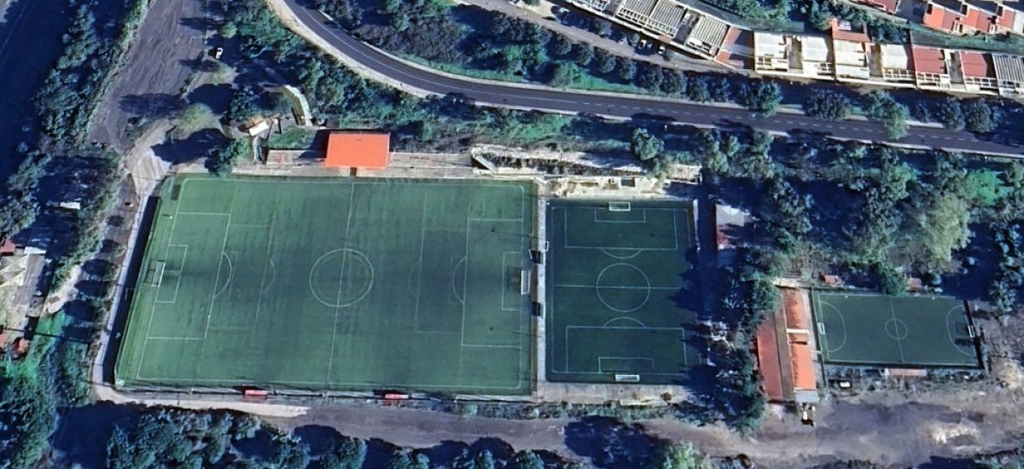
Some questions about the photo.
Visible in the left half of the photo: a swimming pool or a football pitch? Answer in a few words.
football pitch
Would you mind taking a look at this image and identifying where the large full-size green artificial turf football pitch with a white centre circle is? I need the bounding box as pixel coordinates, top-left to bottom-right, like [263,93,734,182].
[117,176,534,396]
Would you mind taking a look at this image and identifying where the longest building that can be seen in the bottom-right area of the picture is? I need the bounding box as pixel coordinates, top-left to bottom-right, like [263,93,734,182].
[756,289,822,403]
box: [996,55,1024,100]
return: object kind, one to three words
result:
house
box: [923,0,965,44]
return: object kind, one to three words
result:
house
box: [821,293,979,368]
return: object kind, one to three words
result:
sports court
